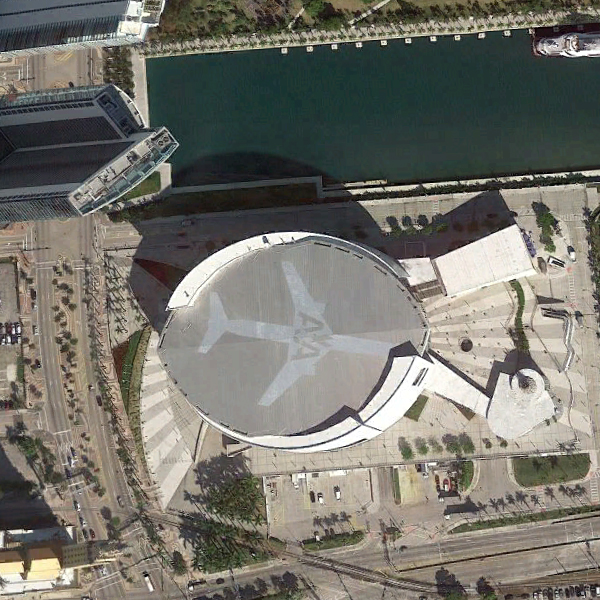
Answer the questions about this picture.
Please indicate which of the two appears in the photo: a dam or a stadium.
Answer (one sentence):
There is a stadium in the scene.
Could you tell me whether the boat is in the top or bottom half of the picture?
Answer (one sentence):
The top half of the photo is where the boat is.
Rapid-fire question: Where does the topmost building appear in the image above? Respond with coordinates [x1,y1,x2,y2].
[0,0,166,80]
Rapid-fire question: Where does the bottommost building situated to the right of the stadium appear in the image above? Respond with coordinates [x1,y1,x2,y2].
[483,369,554,440]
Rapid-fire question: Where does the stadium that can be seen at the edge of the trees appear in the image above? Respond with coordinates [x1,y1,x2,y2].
[157,233,434,452]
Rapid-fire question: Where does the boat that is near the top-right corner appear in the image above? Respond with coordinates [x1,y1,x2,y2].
[536,34,600,57]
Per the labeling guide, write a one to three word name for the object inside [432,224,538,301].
building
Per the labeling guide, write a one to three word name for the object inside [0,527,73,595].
building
